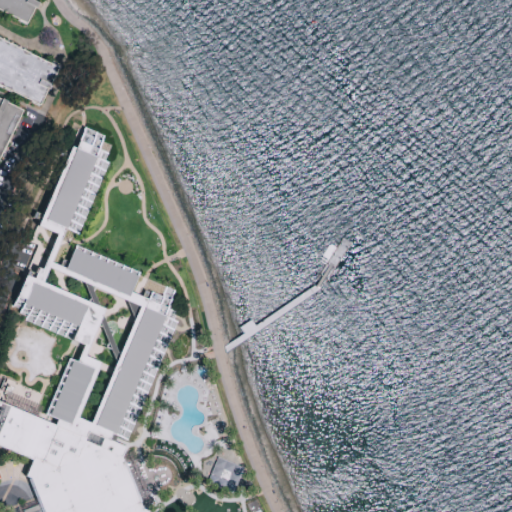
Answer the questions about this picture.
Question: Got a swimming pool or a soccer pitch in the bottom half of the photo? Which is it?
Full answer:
The feature located in the bottom half of the photo is a swimming pool.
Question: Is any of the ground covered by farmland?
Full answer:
No, no farmland is visible.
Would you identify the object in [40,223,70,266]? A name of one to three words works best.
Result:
building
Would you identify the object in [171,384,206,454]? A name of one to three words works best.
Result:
swimming pool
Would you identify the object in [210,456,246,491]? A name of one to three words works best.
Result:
building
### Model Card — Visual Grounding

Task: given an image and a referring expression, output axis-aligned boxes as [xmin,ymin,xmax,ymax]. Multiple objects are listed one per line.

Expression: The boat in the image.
[322,243,336,262]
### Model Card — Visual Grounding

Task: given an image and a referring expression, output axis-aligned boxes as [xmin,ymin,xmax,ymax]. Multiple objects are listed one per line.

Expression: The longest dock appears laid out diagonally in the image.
[224,284,322,352]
